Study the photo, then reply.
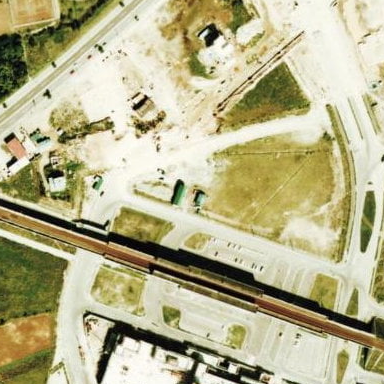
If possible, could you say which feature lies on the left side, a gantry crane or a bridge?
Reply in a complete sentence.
Looking on the left side, you will find a bridge.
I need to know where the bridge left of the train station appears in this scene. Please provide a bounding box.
[0,205,111,258]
